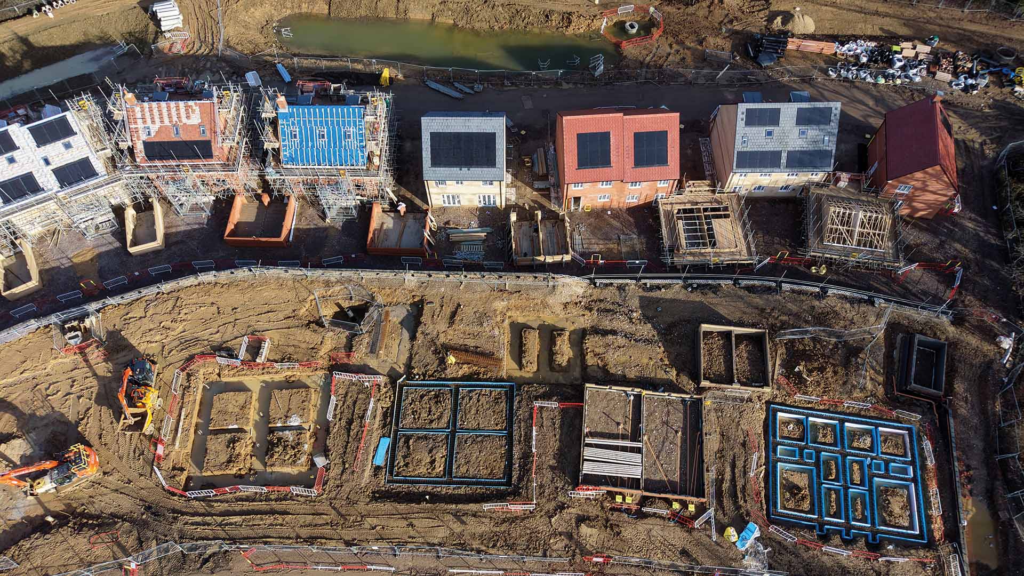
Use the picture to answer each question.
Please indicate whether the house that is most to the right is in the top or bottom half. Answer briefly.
top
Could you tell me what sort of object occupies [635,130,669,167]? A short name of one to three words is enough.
solar panel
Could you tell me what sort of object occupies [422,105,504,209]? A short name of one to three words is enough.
house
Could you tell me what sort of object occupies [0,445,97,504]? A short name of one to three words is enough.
work vehicle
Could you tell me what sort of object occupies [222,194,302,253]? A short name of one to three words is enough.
building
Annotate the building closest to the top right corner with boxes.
[871,87,959,222]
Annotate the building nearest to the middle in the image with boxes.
[506,213,577,275]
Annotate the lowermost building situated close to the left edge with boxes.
[0,238,53,309]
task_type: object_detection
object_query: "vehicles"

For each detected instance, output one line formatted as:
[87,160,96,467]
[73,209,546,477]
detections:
[0,445,97,504]
[86,356,163,428]
[110,392,166,436]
